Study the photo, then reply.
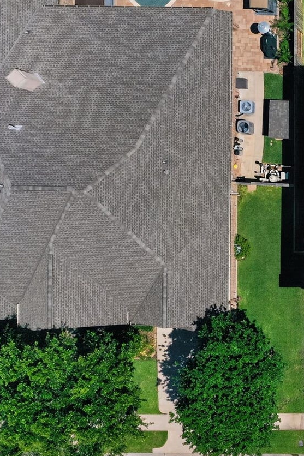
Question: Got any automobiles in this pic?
No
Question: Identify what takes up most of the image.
buildings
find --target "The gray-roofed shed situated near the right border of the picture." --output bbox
[268,99,294,144]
